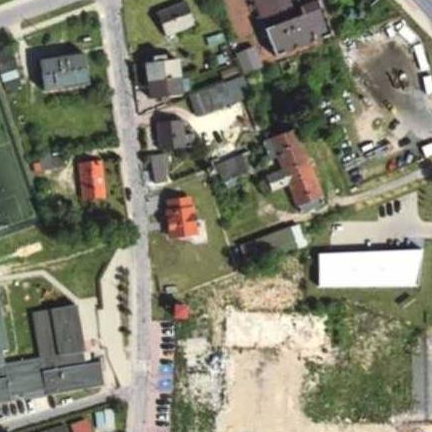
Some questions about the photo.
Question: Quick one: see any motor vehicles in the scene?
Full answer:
Yes, the picture does show a motor vehicle.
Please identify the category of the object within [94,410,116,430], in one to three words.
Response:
building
